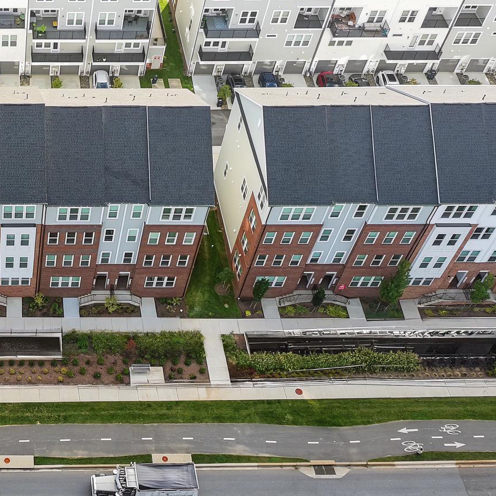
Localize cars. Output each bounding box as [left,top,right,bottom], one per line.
[350,73,372,84]
[91,69,110,86]
[316,72,338,84]
[257,69,280,84]
[225,73,243,98]
[373,69,398,84]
